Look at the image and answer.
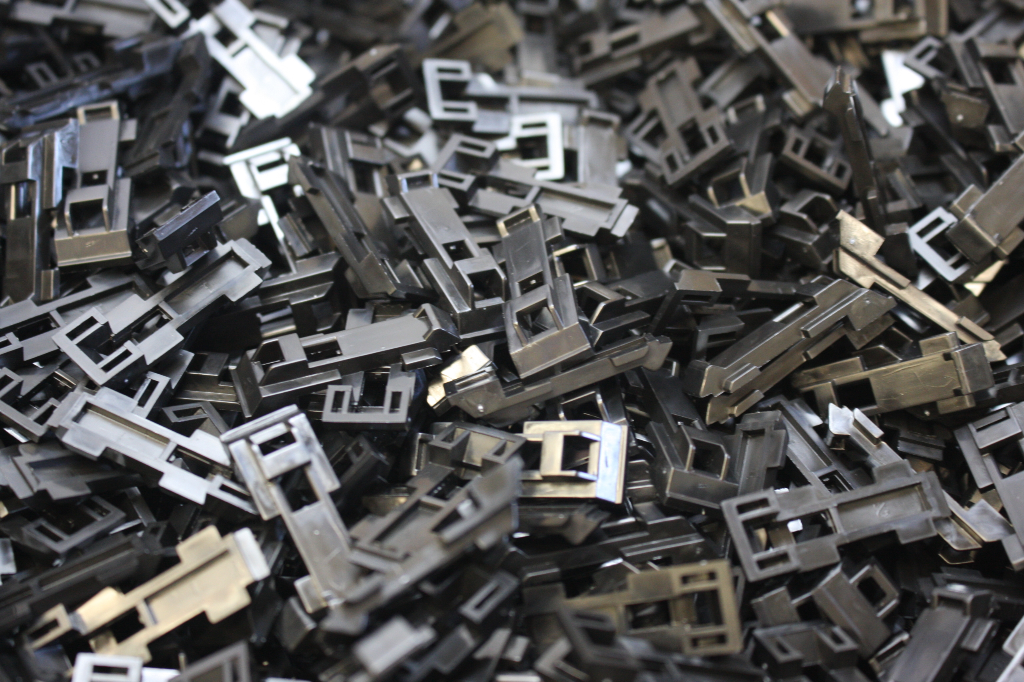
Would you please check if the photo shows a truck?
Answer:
No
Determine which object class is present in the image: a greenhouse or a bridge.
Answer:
bridge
